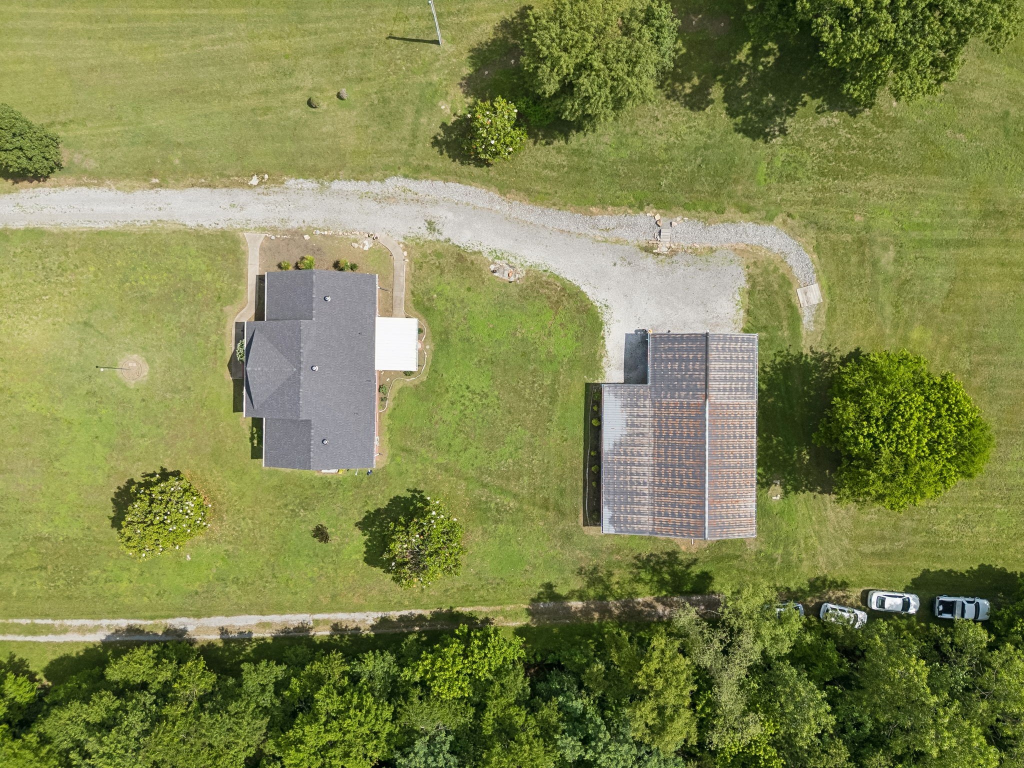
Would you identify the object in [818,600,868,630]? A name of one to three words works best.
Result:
car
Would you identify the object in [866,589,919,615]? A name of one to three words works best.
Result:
car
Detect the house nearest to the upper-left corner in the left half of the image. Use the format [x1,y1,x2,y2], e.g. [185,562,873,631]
[242,268,396,471]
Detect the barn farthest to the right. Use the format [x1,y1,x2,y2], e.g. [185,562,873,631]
[600,328,760,541]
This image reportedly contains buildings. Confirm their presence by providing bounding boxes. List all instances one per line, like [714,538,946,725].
[242,268,396,471]
[600,328,760,541]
